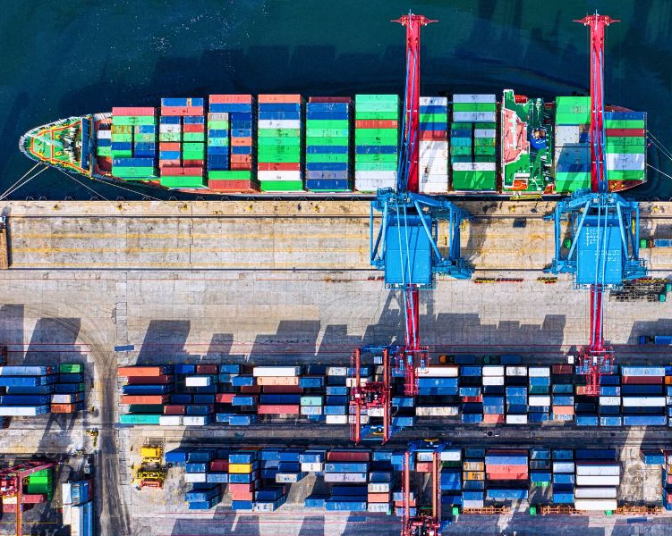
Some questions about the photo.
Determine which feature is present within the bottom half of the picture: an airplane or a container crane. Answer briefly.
container crane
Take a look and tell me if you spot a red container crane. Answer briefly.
Yes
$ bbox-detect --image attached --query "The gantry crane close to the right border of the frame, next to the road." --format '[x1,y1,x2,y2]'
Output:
[536,2,657,395]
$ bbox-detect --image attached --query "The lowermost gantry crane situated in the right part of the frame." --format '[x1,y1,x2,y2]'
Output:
[399,442,454,536]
